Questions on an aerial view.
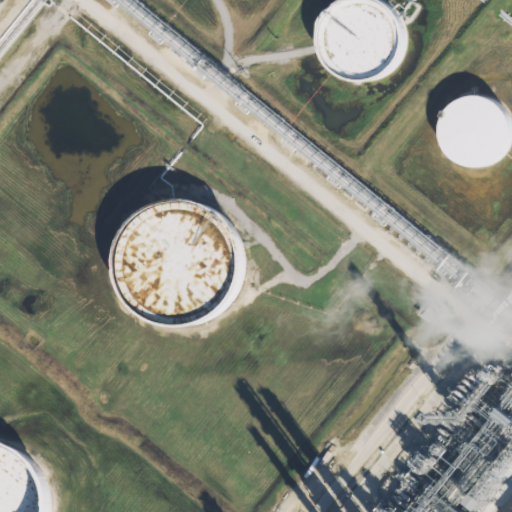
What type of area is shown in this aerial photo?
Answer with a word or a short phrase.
industrial area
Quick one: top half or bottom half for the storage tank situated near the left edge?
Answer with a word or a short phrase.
bottom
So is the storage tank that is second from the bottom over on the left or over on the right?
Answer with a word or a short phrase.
left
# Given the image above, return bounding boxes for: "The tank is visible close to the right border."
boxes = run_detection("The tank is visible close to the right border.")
[436,91,512,172]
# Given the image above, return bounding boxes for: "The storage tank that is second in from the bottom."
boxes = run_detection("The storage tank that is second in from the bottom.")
[110,198,246,330]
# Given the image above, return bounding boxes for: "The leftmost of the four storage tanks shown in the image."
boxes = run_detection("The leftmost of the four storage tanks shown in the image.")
[0,441,49,512]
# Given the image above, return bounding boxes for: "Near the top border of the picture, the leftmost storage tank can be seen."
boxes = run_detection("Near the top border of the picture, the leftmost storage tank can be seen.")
[314,0,408,83]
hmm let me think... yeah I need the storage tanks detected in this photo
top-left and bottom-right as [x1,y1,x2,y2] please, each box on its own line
[110,198,246,330]
[314,0,408,83]
[436,91,512,172]
[0,441,49,512]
